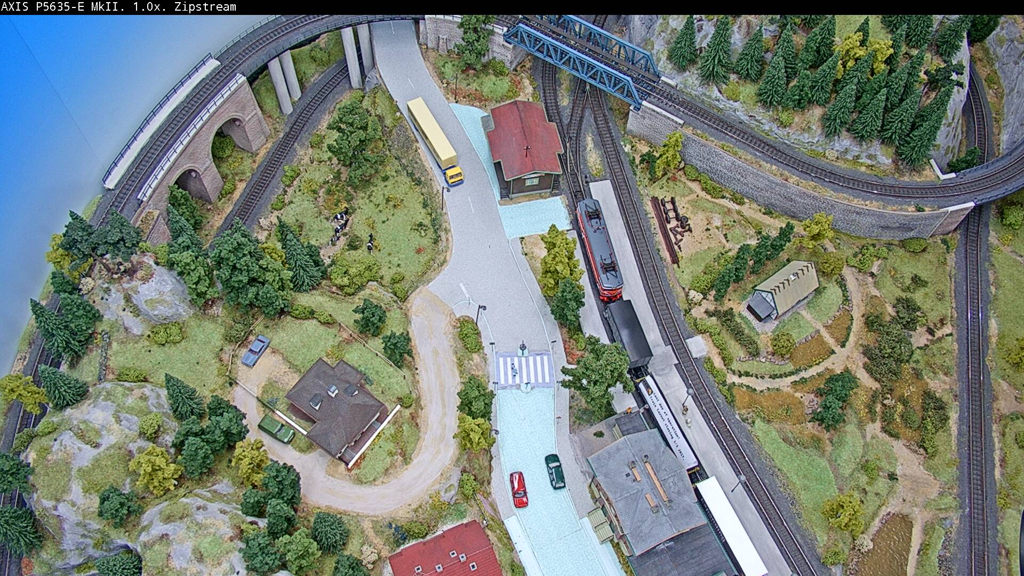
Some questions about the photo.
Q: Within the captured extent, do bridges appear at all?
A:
Yes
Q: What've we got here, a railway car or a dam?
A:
railway car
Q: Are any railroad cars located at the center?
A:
Yes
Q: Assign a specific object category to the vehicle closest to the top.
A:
truck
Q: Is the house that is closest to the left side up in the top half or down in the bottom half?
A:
bottom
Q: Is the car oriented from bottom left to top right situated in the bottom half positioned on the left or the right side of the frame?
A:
left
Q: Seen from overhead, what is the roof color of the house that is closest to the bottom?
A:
red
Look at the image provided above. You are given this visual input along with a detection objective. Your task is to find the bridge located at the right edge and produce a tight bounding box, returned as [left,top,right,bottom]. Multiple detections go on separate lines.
[940,141,1024,210]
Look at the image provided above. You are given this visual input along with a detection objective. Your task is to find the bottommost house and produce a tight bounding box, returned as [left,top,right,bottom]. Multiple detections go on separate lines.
[389,519,505,576]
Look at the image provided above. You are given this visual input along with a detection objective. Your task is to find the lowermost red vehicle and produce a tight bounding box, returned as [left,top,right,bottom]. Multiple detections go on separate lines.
[510,471,529,510]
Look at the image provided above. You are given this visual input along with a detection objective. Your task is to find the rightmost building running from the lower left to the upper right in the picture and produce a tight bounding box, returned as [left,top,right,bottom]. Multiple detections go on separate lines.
[745,260,822,322]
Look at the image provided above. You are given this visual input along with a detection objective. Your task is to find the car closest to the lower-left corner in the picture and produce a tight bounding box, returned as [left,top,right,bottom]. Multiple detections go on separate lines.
[255,414,298,446]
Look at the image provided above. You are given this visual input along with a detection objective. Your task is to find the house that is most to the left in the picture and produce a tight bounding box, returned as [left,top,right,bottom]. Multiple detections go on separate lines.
[284,359,405,472]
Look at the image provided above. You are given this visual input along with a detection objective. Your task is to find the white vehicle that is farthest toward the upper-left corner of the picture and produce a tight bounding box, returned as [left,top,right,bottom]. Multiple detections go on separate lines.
[407,97,465,187]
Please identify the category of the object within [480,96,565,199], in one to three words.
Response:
shed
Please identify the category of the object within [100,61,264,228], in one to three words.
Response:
bridge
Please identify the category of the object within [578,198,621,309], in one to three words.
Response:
rail car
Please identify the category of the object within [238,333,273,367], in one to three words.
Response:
car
